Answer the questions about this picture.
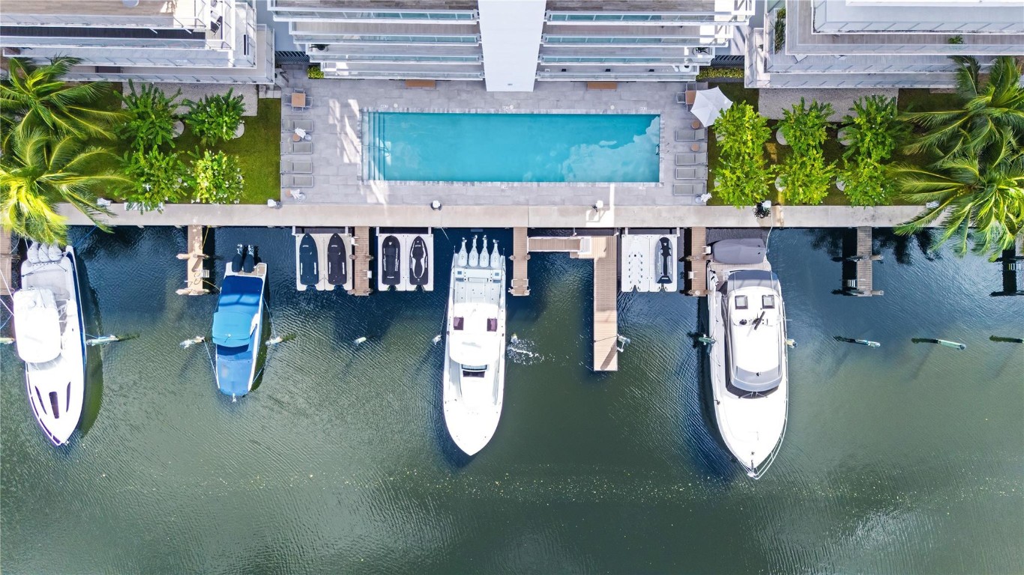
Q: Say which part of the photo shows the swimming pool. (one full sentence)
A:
The swimming pool is located in the top region of the scene.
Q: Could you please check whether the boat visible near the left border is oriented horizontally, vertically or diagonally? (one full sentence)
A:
I'd say the boat visible near the left border is aligned vertically in the picture.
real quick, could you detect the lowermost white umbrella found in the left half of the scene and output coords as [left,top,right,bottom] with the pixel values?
[289,188,309,203]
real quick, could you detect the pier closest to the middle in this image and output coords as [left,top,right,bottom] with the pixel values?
[508,228,533,295]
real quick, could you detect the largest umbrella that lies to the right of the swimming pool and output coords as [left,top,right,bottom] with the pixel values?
[690,86,733,127]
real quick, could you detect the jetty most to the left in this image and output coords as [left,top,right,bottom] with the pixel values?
[0,228,27,293]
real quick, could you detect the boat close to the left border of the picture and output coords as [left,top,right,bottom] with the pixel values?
[13,244,95,447]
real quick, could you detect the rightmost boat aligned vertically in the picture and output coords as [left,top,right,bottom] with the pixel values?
[705,258,791,481]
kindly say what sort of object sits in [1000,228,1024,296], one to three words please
pier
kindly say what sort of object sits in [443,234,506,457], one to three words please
boat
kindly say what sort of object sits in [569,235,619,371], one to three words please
pier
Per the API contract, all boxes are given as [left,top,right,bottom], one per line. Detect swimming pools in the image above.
[356,108,675,187]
